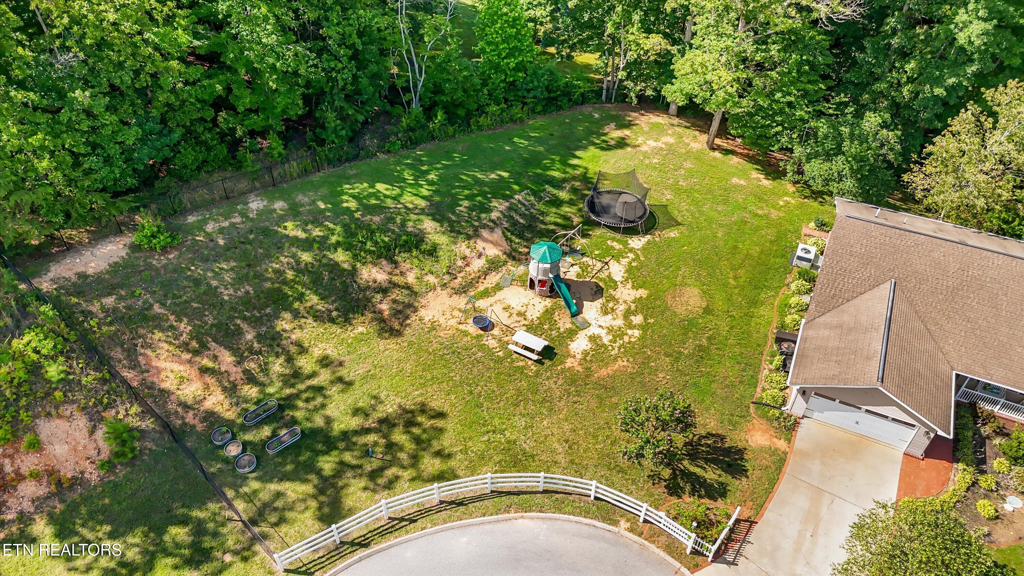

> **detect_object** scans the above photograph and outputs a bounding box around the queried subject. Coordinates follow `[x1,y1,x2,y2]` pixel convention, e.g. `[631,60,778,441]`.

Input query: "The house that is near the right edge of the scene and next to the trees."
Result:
[781,196,1024,460]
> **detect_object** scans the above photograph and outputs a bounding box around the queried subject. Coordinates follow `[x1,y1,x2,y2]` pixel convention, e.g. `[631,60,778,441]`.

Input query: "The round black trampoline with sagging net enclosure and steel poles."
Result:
[583,170,652,237]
